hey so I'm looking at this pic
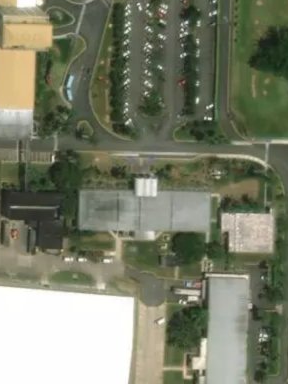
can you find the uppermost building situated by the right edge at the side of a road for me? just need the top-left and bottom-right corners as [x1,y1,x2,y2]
[219,211,274,252]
